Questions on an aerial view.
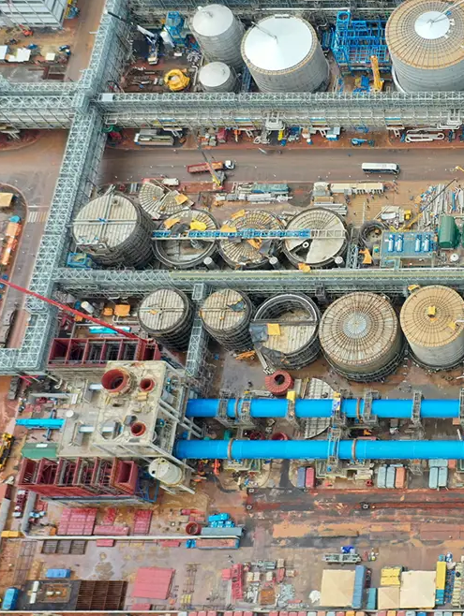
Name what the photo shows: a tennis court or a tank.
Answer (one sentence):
Visible in the photo is a tank.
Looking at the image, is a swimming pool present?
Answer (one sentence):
No, the scene contains no swimming pool.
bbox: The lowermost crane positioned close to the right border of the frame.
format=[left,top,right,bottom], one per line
[390,178,458,238]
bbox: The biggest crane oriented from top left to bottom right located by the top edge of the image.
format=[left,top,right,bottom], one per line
[104,11,164,72]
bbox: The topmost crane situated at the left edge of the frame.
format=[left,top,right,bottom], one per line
[0,277,151,339]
